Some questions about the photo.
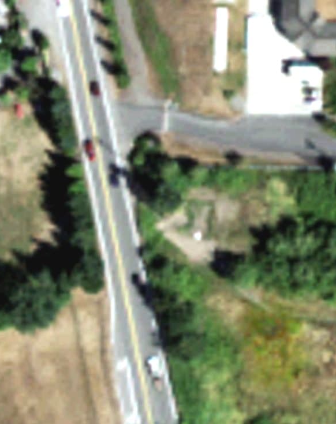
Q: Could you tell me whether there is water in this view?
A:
No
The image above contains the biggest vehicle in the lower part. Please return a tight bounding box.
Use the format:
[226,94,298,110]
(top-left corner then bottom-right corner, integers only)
[150,353,165,380]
